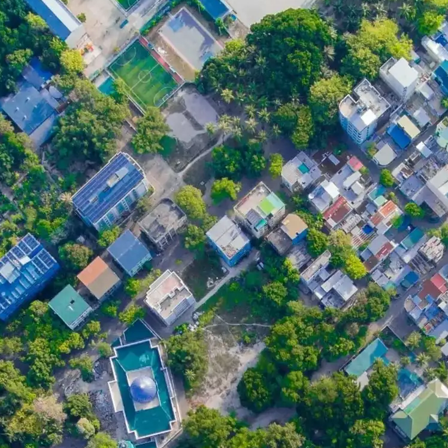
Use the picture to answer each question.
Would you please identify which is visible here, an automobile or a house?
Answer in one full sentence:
I can see a house in this picture.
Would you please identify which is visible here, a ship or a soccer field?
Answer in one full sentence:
There is a soccer field in the scene.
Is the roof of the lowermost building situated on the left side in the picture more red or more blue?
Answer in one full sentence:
The roof of the lowermost building situated on the left side is blue.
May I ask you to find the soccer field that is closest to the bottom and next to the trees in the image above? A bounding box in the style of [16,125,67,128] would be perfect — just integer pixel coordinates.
[105,36,184,106]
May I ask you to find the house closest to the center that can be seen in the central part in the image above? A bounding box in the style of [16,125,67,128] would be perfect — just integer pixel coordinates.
[206,216,251,262]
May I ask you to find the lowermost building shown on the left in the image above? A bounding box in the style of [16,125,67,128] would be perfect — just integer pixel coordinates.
[108,319,180,448]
